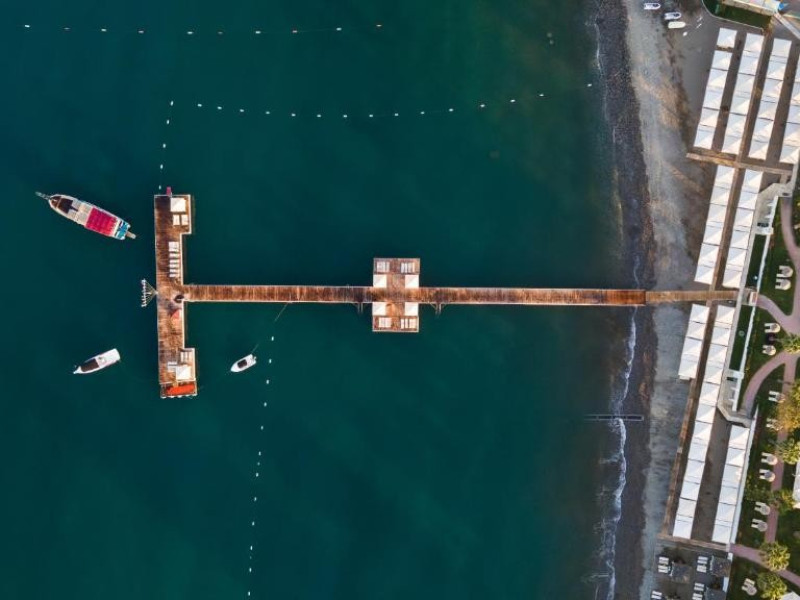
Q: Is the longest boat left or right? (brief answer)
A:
left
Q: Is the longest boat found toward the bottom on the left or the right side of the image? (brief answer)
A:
left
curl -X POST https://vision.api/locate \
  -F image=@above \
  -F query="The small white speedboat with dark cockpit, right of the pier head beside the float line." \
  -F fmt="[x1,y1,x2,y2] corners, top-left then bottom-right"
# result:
[231,355,255,371]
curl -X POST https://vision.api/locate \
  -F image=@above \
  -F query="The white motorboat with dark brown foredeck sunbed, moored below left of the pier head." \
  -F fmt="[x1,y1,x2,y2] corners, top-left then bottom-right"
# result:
[73,348,123,374]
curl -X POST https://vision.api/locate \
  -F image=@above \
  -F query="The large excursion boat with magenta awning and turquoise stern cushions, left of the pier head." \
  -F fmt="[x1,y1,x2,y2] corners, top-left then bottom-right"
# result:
[33,193,137,240]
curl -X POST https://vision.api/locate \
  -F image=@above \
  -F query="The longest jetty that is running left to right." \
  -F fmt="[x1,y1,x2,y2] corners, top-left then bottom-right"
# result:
[154,195,738,385]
